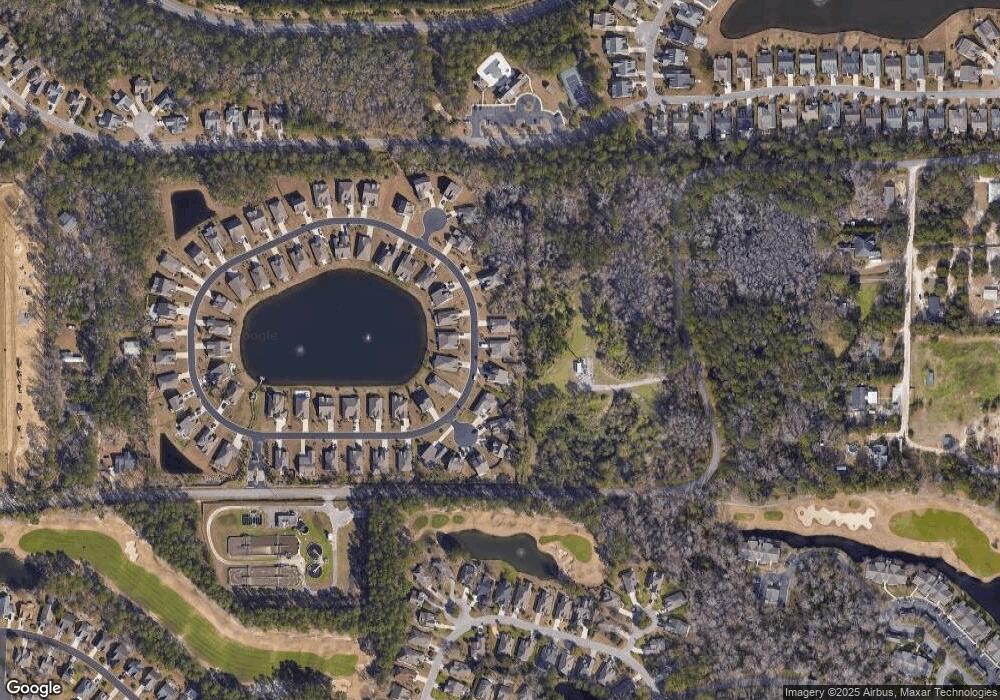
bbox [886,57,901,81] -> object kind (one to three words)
house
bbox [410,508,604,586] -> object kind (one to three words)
golf course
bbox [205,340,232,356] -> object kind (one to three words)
house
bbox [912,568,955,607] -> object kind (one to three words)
building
